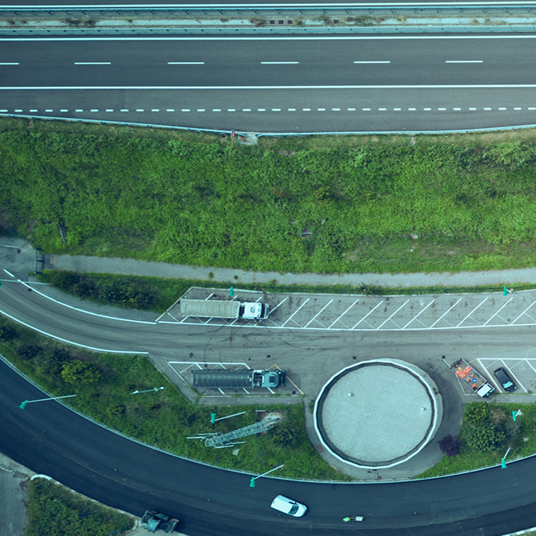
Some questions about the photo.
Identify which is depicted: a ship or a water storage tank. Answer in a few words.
water storage tank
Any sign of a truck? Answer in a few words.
Yes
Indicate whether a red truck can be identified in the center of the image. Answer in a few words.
No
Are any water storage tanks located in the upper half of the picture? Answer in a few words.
No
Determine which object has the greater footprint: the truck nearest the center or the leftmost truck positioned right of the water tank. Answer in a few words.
the truck nearest the center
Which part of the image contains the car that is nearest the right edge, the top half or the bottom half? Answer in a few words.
bottom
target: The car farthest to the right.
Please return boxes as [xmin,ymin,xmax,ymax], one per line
[494,368,515,395]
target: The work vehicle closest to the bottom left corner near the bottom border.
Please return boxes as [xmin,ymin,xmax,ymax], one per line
[138,510,181,536]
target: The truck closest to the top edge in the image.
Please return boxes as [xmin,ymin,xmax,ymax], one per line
[174,300,273,325]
